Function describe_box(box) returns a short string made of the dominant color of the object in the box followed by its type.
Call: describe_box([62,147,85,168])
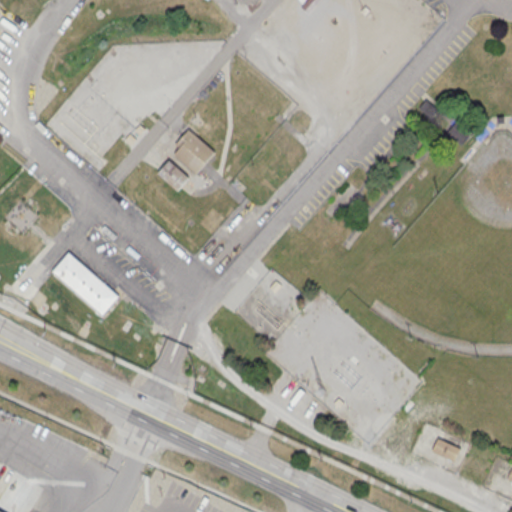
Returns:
white truck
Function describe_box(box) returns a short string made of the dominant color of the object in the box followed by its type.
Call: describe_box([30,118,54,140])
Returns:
white truck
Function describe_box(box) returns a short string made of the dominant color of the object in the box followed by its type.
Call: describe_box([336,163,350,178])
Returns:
white vehicle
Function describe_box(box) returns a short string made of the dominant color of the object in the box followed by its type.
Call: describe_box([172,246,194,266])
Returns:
white vehicle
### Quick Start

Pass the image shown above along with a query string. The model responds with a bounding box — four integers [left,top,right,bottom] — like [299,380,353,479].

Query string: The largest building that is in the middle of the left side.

[52,252,122,318]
